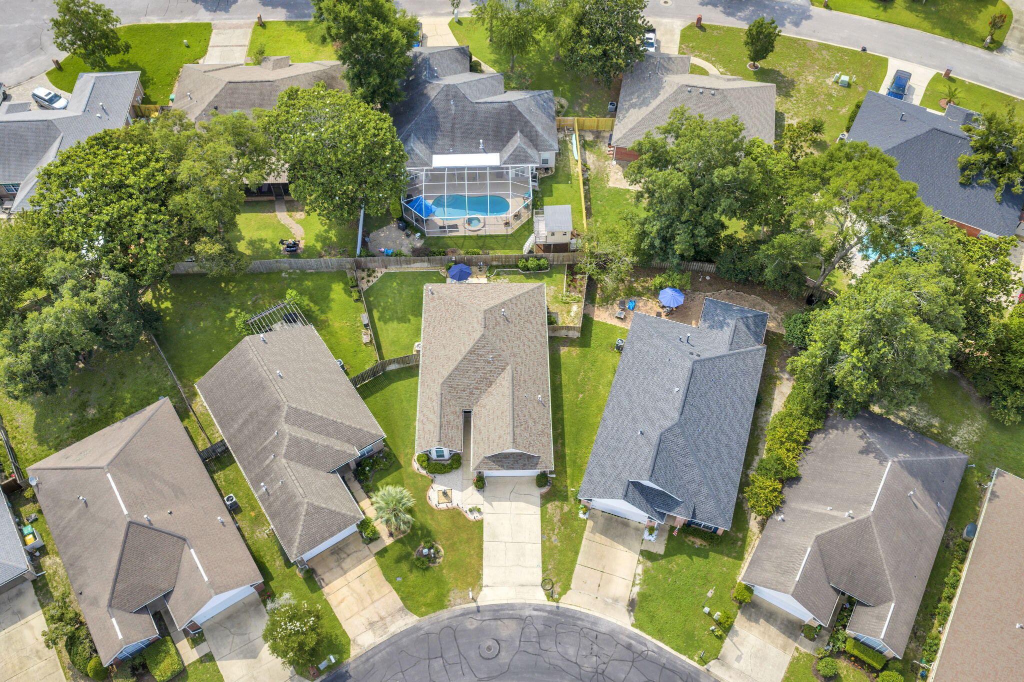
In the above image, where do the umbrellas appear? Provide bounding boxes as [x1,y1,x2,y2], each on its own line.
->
[657,288,684,310]
[449,265,472,283]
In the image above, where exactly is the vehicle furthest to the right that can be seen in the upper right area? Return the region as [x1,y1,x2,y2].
[892,70,915,104]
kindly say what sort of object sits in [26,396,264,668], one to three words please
house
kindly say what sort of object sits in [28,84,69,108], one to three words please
car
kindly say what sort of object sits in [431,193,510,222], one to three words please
swimming pool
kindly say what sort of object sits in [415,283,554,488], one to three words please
house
